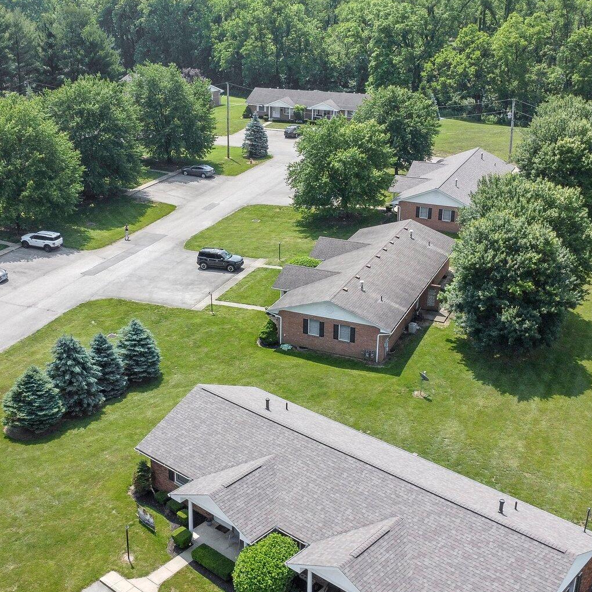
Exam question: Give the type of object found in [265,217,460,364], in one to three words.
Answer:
house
